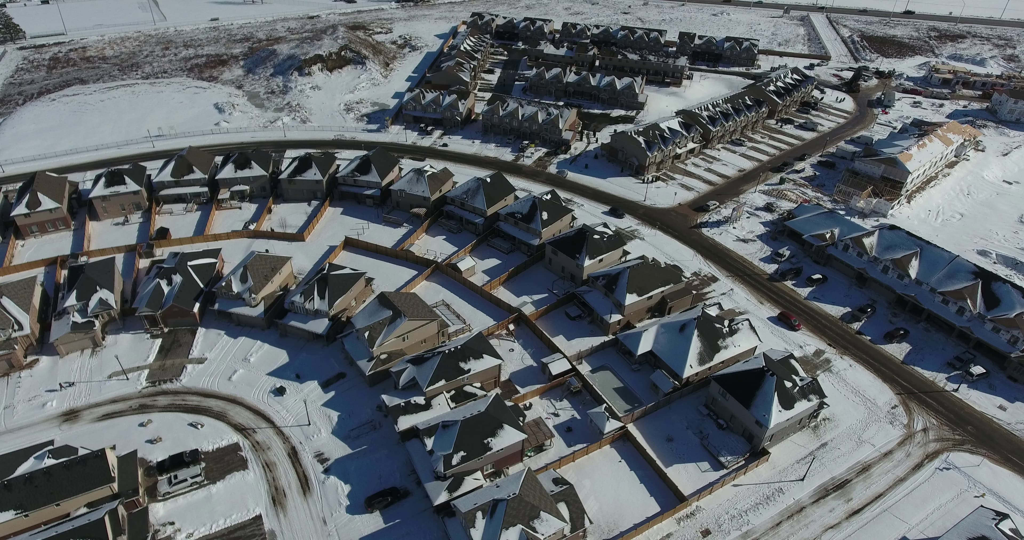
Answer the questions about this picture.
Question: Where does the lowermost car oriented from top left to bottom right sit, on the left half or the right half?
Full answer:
The lowermost car oriented from top left to bottom right appears in the right half of the scene.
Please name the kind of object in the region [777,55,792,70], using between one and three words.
work vehicle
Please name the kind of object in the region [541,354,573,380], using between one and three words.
shed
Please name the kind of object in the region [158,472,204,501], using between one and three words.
car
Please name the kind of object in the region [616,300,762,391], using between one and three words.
house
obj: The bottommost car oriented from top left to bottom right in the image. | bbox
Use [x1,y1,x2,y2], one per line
[777,312,803,332]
